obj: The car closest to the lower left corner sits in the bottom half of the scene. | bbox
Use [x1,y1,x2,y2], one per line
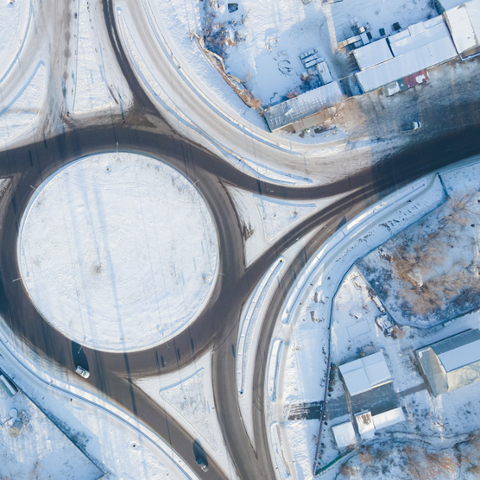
[74,365,89,378]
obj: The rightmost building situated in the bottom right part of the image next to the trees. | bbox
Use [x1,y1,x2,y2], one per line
[423,329,480,391]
